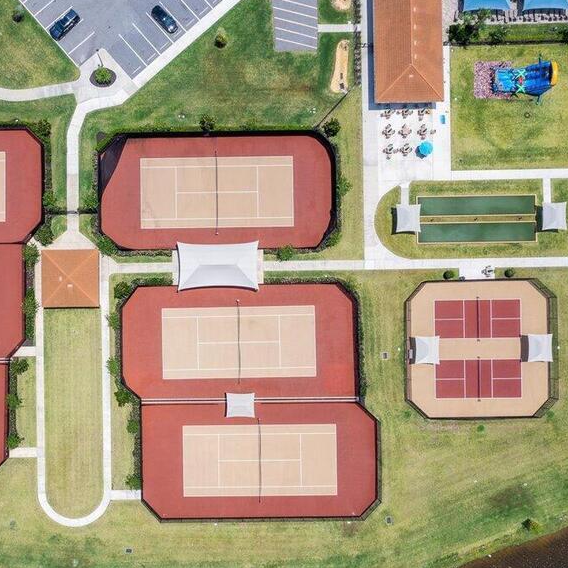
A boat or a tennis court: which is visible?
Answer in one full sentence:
It is a tennis court that can be seen here.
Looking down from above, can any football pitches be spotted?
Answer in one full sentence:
No, there is no football pitch in the image.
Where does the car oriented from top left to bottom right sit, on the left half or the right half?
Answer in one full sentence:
You can find the car oriented from top left to bottom right on the left side of the picture.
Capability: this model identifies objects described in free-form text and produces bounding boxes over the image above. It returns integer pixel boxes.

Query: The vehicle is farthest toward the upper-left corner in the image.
[52,10,81,38]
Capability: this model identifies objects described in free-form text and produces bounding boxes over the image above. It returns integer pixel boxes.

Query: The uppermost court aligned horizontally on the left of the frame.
[100,136,331,248]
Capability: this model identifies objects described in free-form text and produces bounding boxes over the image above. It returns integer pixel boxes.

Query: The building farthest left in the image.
[41,249,100,308]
